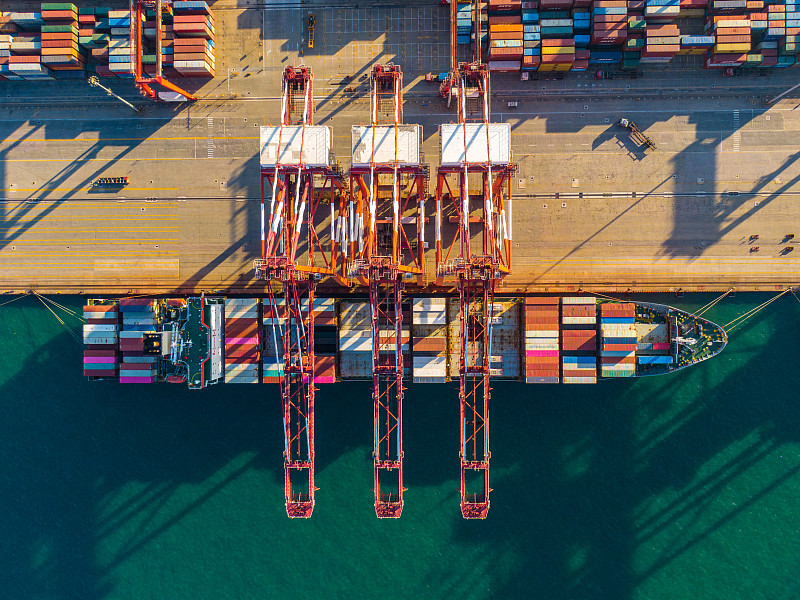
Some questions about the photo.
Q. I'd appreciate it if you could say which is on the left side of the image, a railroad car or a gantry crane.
gantry crane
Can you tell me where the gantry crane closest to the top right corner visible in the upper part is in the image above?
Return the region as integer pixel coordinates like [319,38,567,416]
[432,0,488,102]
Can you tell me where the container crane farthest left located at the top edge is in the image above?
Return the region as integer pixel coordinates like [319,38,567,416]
[129,0,204,106]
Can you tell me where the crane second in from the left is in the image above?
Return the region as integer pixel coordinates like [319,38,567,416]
[253,65,359,516]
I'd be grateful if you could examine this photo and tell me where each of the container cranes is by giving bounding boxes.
[253,65,359,516]
[129,0,204,106]
[423,62,522,517]
[432,0,488,102]
[346,63,434,517]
